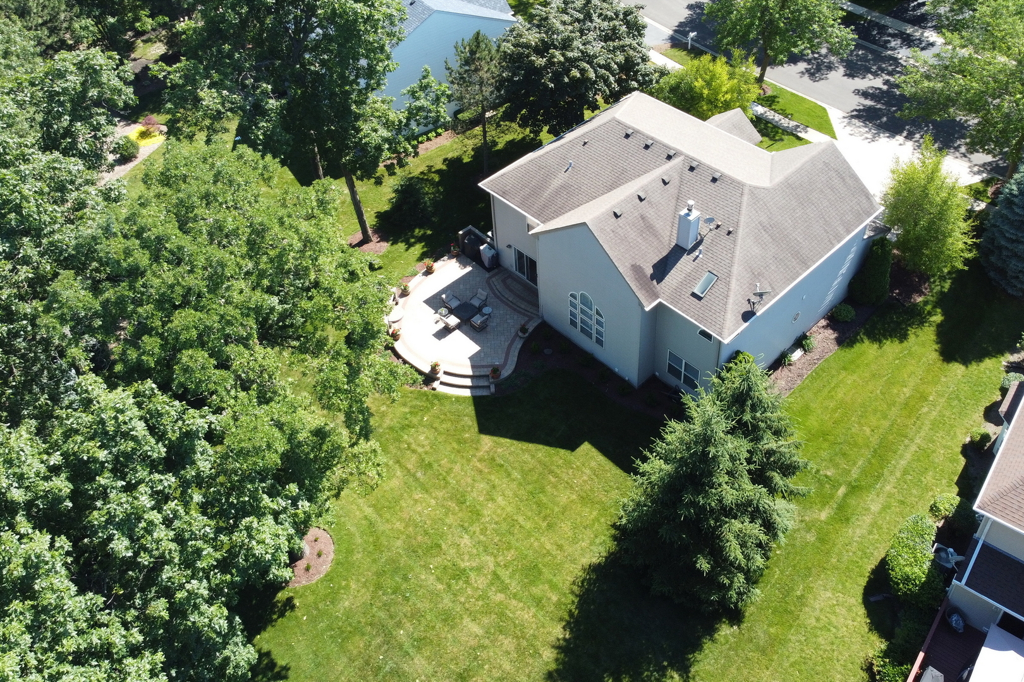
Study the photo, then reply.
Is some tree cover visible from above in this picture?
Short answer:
Yes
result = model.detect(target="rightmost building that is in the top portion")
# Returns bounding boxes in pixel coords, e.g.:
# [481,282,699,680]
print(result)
[475,89,887,397]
